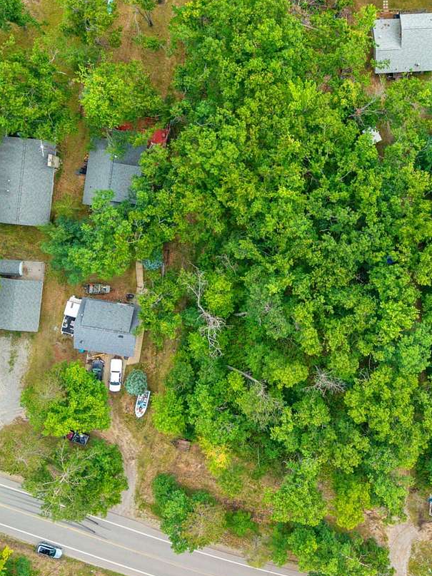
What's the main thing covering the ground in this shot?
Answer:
trees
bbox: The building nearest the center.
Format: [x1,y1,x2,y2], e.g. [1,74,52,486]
[74,296,140,356]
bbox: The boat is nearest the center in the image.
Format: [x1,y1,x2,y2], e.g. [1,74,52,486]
[82,282,116,295]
